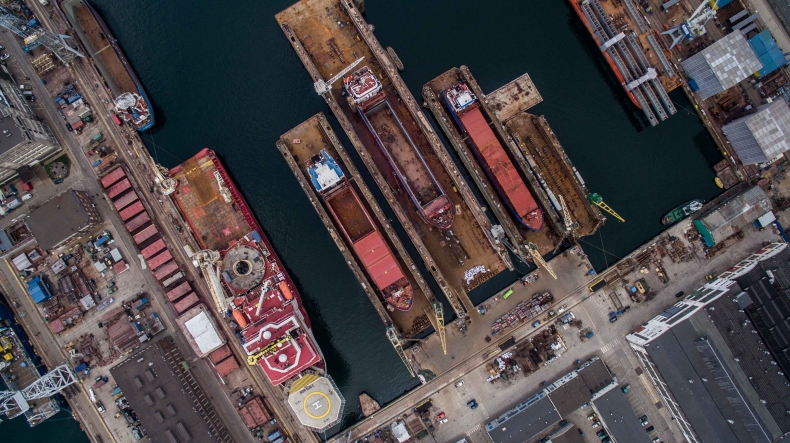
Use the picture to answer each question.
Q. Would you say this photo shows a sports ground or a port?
port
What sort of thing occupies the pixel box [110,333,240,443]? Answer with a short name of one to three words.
building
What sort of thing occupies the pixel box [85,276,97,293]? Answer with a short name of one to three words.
vehicle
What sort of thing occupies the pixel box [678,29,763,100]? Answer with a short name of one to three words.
shed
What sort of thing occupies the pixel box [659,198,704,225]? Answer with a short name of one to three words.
boat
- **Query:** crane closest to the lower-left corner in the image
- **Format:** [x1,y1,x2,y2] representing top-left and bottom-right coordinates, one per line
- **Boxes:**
[0,364,79,420]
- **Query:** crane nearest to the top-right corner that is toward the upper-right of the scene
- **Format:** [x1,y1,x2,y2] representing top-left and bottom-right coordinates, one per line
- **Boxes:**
[659,0,718,51]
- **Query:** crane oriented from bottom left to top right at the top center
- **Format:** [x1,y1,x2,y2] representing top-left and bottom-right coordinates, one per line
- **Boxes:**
[309,56,366,100]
